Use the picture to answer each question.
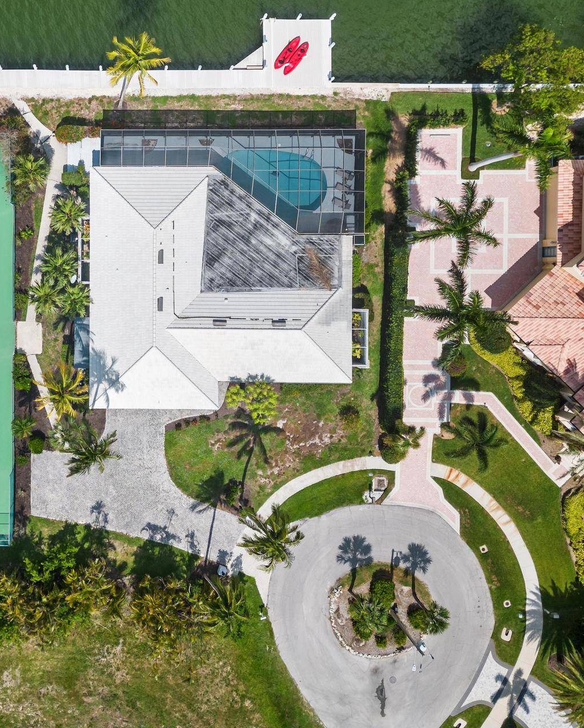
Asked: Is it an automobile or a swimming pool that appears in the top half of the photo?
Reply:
swimming pool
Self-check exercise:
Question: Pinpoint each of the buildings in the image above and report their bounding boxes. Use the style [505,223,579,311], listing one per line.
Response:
[89,166,353,409]
[499,160,584,449]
